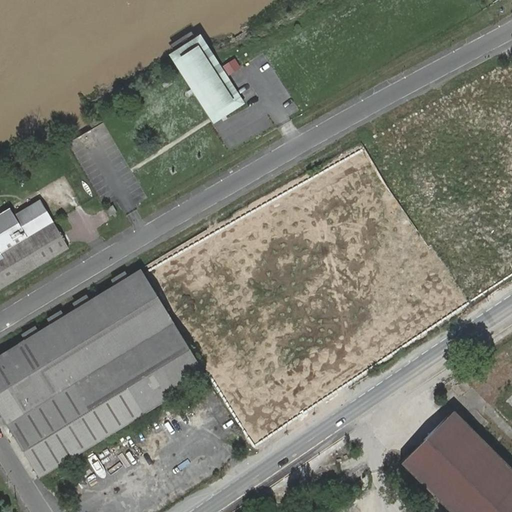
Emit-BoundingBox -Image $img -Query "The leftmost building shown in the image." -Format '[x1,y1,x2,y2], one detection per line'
[0,200,69,288]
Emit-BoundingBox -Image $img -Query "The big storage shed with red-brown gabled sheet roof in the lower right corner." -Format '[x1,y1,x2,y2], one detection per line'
[403,412,512,512]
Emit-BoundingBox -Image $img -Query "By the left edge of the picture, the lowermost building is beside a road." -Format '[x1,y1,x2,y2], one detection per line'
[0,269,204,478]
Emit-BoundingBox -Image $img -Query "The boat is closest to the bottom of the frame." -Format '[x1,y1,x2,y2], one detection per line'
[86,454,106,478]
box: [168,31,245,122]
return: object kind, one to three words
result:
building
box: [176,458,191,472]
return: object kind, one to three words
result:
vehicle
